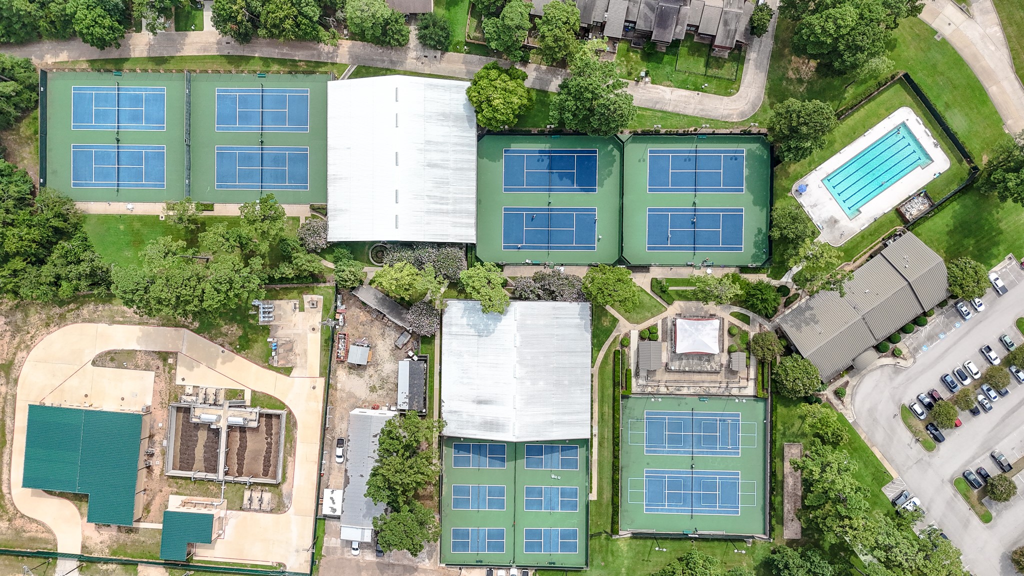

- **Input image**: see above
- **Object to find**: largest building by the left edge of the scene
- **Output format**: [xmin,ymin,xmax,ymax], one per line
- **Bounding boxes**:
[22,403,150,526]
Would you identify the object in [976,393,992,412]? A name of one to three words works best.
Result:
car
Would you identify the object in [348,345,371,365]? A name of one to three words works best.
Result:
shed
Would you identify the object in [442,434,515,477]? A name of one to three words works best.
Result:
sports court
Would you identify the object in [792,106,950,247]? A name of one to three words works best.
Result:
swimming pool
